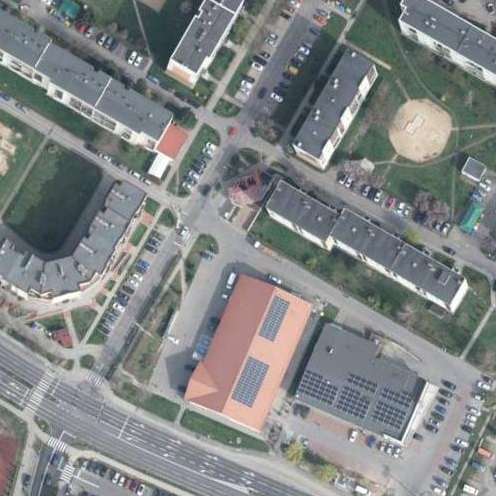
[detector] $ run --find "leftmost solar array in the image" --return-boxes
[233,357,269,408]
